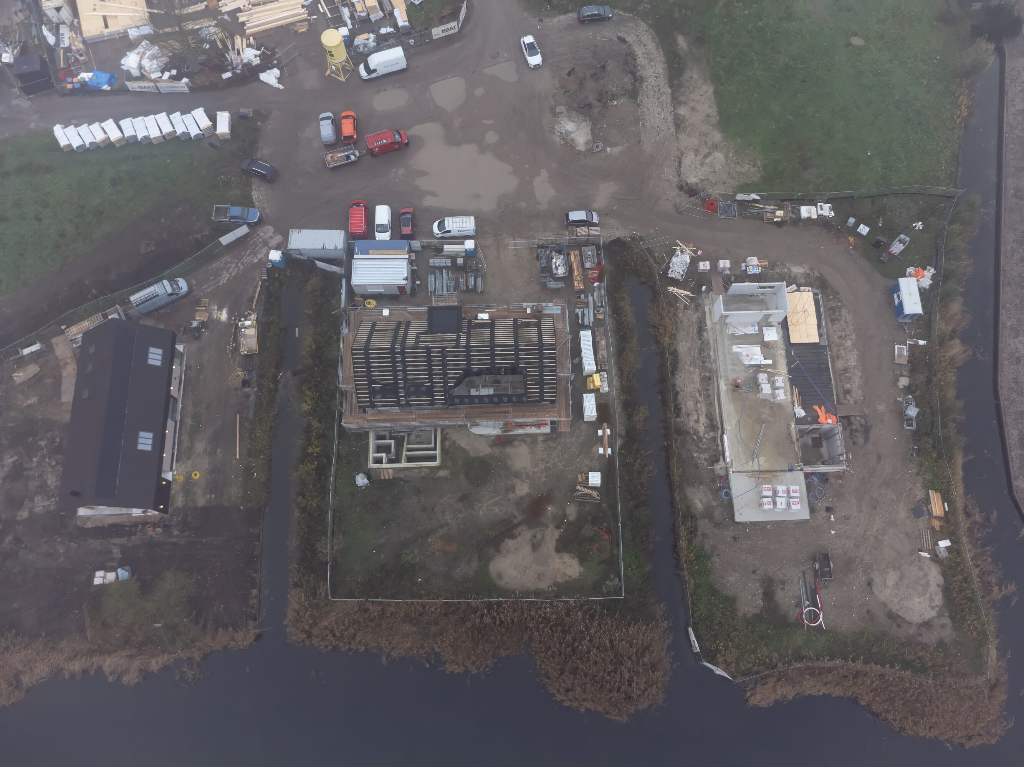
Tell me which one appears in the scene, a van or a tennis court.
van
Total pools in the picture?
0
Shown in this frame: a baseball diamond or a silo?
silo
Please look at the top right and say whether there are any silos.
No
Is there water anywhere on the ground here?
Yes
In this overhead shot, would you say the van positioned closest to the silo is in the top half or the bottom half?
top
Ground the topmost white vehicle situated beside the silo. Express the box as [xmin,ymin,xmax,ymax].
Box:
[357,47,407,82]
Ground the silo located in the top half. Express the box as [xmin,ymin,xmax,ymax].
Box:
[319,20,355,80]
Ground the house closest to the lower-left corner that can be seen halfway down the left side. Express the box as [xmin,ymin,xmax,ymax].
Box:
[49,320,191,529]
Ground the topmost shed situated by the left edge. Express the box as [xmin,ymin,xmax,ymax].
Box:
[42,0,75,33]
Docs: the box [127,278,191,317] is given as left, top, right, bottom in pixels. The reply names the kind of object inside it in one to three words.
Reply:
van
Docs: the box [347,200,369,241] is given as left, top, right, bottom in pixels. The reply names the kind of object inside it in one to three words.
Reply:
vehicle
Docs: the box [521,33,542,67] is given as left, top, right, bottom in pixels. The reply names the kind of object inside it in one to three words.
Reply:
car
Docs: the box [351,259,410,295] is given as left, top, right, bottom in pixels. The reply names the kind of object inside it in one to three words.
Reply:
building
